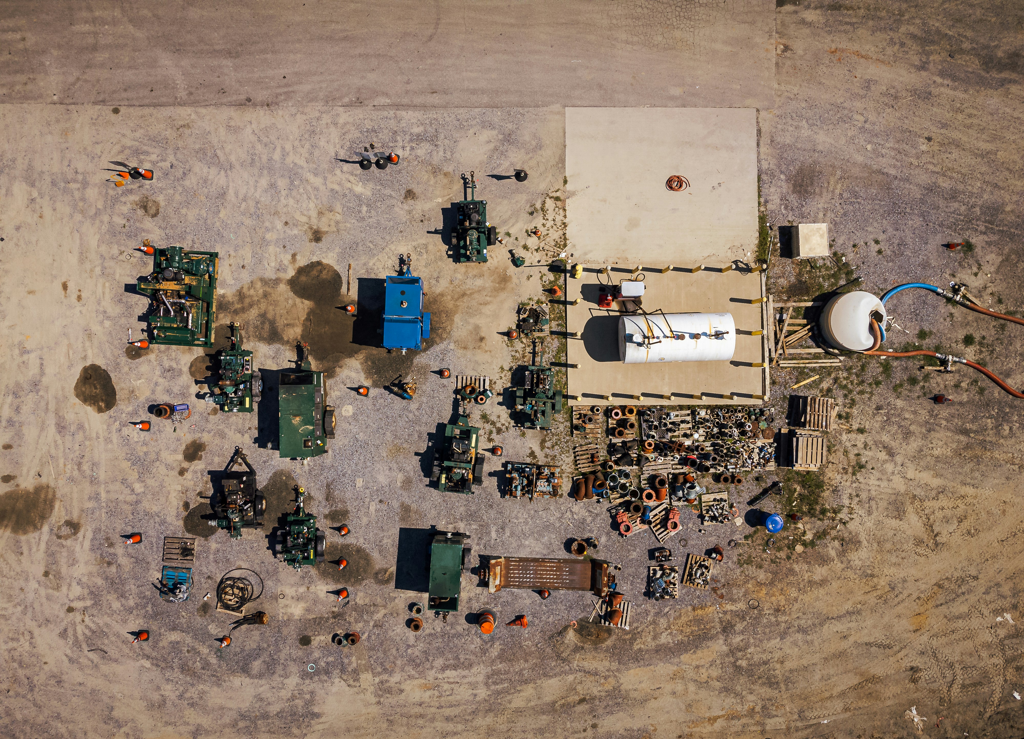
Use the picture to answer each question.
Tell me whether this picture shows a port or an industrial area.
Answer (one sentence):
The area seen from above is an industrial area.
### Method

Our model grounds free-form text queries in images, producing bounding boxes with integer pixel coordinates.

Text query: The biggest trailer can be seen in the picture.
[267,342,335,466]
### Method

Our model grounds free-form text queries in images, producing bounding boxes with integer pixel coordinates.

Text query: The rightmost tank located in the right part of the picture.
[820,293,909,349]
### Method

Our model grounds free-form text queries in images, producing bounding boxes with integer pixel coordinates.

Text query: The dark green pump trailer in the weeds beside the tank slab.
[512,338,562,431]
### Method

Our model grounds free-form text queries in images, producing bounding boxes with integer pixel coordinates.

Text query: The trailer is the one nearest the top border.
[453,171,496,263]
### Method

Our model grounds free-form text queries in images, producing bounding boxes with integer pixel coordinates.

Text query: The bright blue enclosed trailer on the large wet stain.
[380,253,430,355]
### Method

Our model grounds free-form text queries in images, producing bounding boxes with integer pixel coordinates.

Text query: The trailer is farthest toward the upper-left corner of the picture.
[204,322,263,412]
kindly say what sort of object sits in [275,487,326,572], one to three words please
trailer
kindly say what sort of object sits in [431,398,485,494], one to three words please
trailer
